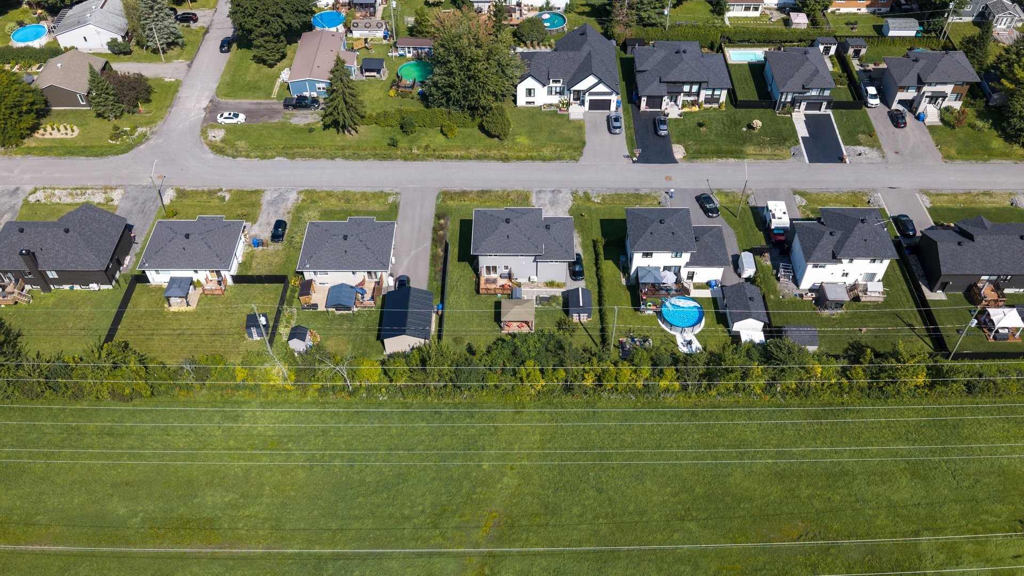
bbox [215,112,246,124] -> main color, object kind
white vehicle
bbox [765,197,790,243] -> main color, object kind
white vehicle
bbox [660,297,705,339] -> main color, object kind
blue swimming pool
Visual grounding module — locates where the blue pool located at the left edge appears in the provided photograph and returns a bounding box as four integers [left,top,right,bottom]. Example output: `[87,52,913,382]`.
[9,24,52,49]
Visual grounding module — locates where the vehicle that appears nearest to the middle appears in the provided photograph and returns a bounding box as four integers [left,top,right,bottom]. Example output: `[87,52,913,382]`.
[570,254,586,281]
